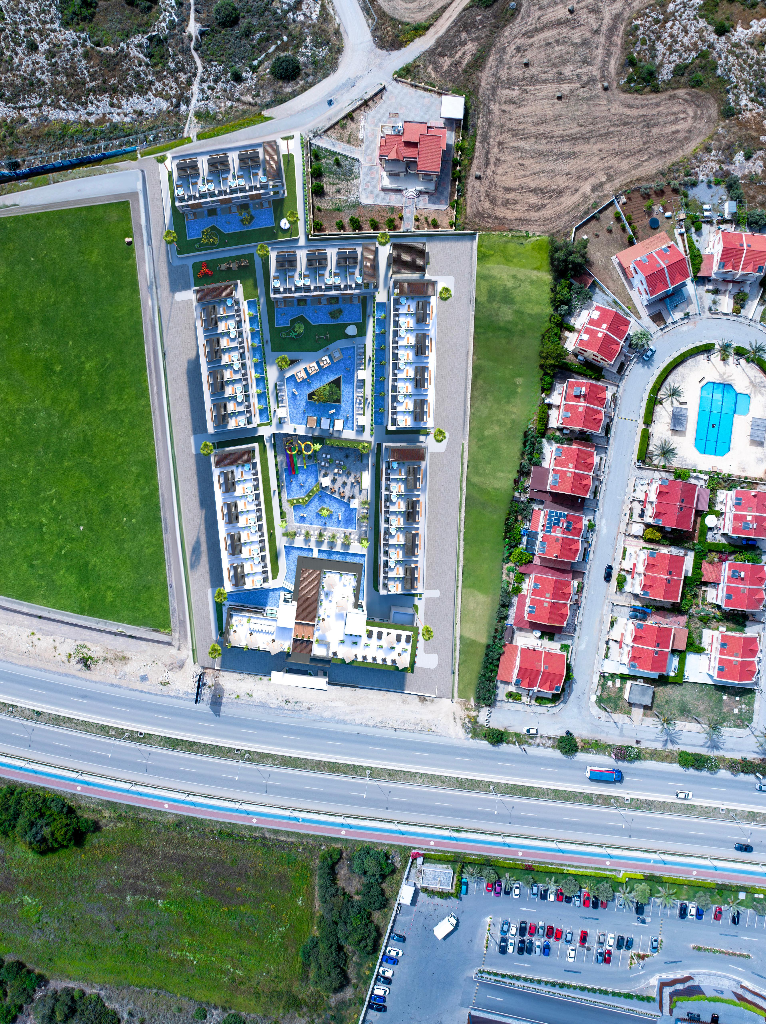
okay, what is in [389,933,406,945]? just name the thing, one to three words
vehicle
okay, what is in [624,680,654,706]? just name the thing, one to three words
shed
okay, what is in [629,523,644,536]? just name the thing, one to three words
gazebo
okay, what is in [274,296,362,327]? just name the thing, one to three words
swimming pool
